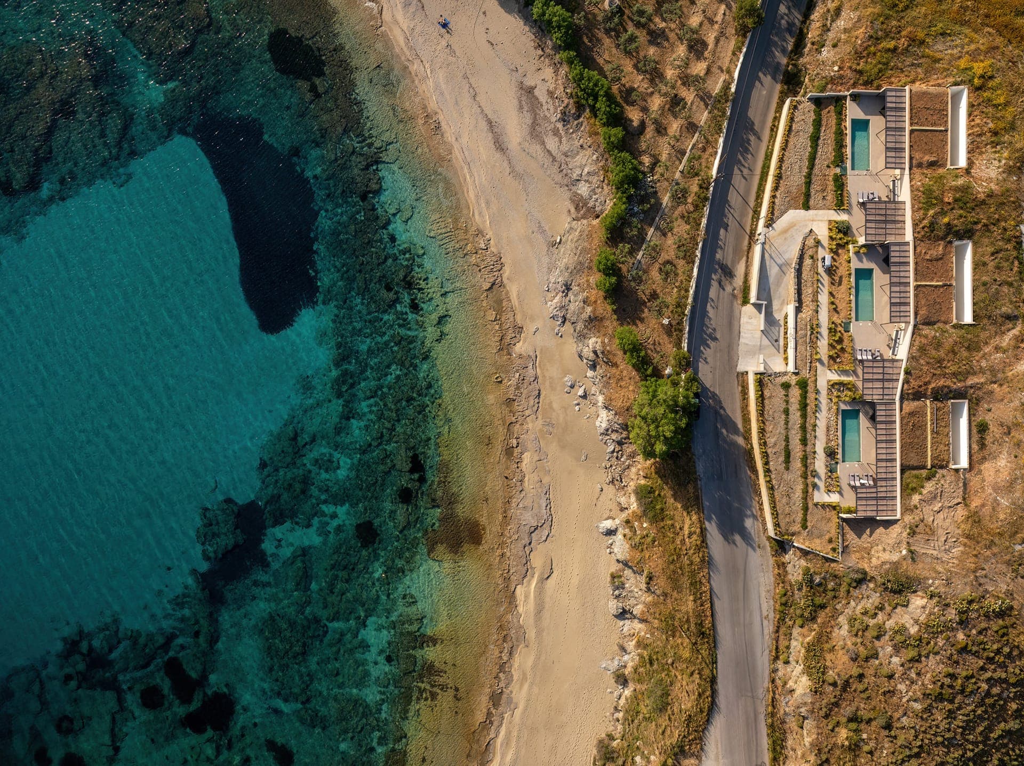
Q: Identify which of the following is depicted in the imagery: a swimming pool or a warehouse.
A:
swimming pool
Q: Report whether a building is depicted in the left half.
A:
No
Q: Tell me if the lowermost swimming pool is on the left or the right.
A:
right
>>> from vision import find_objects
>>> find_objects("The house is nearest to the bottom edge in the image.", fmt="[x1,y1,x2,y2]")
[831,399,901,520]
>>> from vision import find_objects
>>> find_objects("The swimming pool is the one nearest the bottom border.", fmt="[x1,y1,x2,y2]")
[841,408,862,466]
